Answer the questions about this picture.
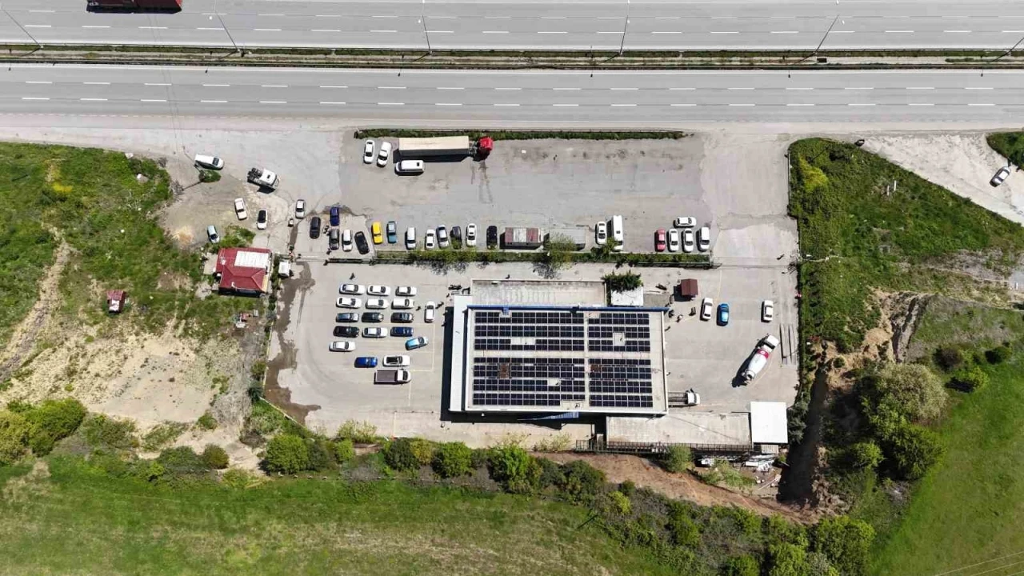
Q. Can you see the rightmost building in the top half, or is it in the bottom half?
bottom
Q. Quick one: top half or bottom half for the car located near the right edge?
top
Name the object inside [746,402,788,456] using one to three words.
building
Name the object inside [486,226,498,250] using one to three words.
vehicle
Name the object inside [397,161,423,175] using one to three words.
vehicle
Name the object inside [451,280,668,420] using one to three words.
building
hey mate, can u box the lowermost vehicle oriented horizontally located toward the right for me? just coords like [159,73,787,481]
[668,391,700,405]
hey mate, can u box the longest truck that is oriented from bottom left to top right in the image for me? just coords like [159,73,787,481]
[743,332,782,380]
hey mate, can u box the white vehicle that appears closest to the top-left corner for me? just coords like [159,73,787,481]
[193,152,224,171]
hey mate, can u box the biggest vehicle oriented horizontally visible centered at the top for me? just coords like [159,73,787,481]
[398,132,490,154]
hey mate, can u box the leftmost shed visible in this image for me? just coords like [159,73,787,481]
[108,290,127,312]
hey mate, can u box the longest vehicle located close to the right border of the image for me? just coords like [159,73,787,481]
[989,165,1010,187]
